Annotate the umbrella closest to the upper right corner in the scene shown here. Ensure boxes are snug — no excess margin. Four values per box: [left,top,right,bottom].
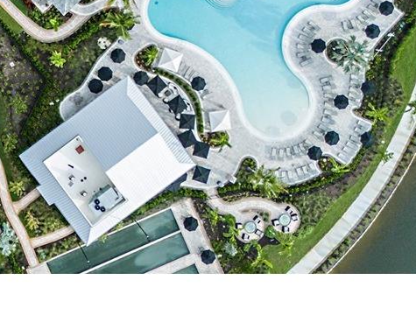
[377,0,394,15]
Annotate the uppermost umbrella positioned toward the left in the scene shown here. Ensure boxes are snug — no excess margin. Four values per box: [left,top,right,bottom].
[110,48,127,64]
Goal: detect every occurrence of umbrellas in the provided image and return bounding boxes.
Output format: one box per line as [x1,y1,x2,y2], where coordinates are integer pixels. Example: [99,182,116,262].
[133,70,149,86]
[355,130,373,146]
[190,164,211,184]
[359,80,376,96]
[190,139,212,160]
[178,113,195,130]
[322,131,339,146]
[110,48,127,64]
[331,93,348,109]
[377,0,394,15]
[182,215,197,231]
[88,78,102,93]
[166,93,188,116]
[146,75,168,97]
[96,66,112,81]
[199,248,216,264]
[306,145,322,160]
[361,23,380,39]
[176,129,197,149]
[190,76,205,91]
[309,38,325,54]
